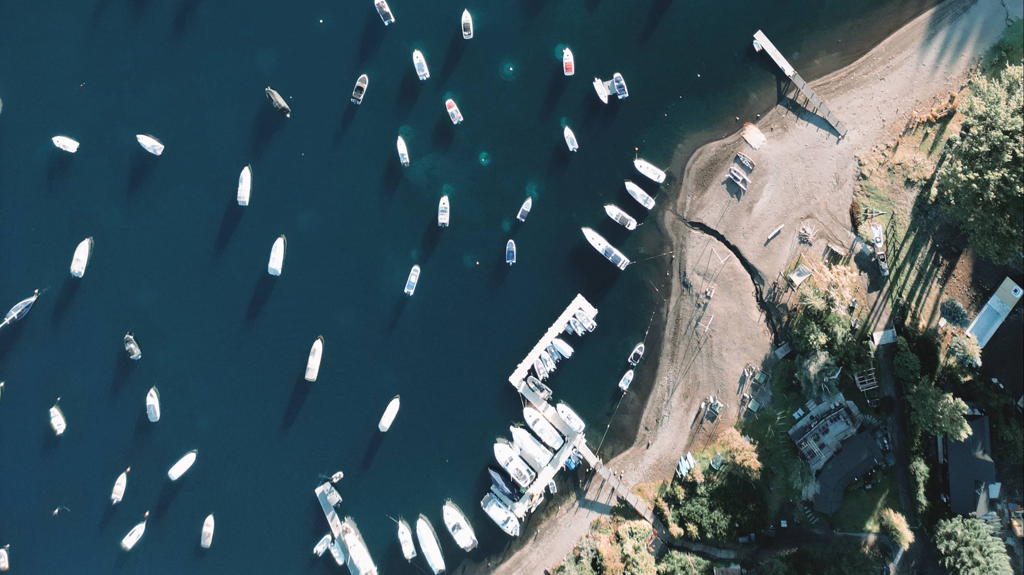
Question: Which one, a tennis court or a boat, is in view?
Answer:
boat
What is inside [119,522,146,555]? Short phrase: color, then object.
white boat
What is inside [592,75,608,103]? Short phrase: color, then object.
white boat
